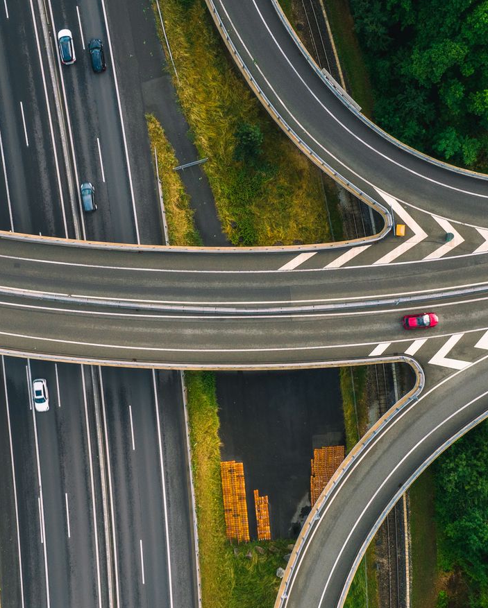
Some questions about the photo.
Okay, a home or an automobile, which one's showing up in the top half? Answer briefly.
automobile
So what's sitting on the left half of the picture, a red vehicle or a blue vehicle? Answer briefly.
blue vehicle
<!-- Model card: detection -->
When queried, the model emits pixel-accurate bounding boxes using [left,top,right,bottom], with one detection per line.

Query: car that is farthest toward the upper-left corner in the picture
[57,31,76,64]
